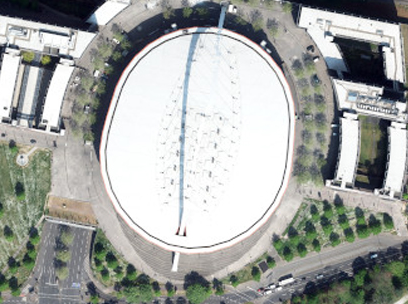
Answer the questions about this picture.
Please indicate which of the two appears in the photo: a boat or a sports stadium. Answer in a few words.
sports stadium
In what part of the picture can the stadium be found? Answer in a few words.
center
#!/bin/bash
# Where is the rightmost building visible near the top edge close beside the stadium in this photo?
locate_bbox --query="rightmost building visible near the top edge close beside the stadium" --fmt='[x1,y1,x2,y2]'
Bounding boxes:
[296,7,408,83]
